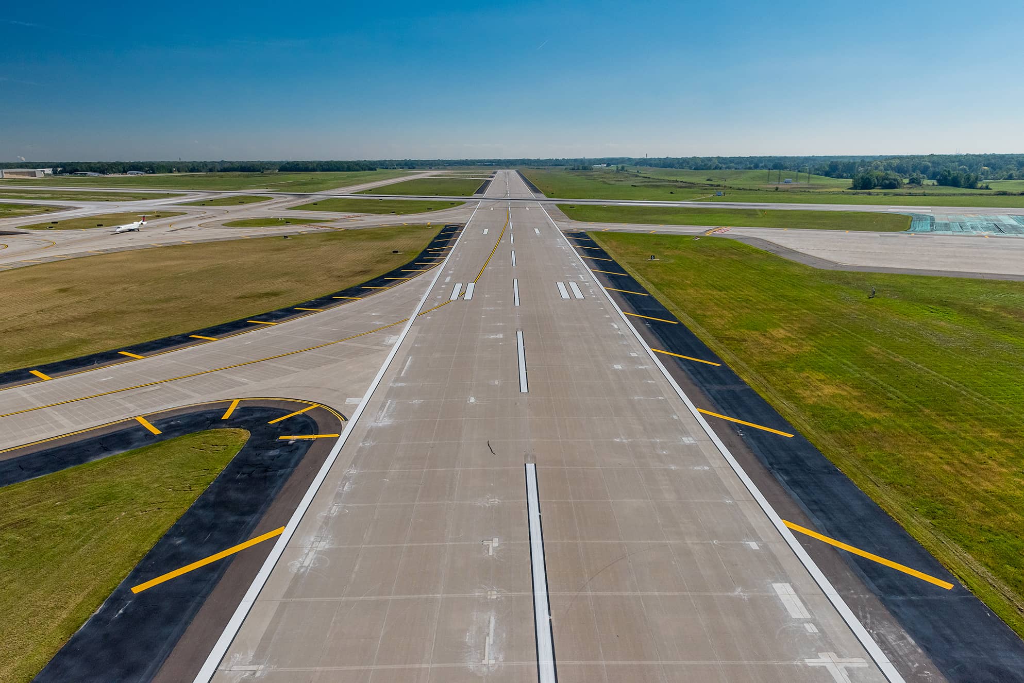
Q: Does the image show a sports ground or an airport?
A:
airport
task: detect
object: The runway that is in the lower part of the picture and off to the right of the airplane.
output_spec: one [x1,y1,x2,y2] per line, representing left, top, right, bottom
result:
[192,170,906,683]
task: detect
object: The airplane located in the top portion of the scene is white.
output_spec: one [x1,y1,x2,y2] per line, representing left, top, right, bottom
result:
[114,214,154,233]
